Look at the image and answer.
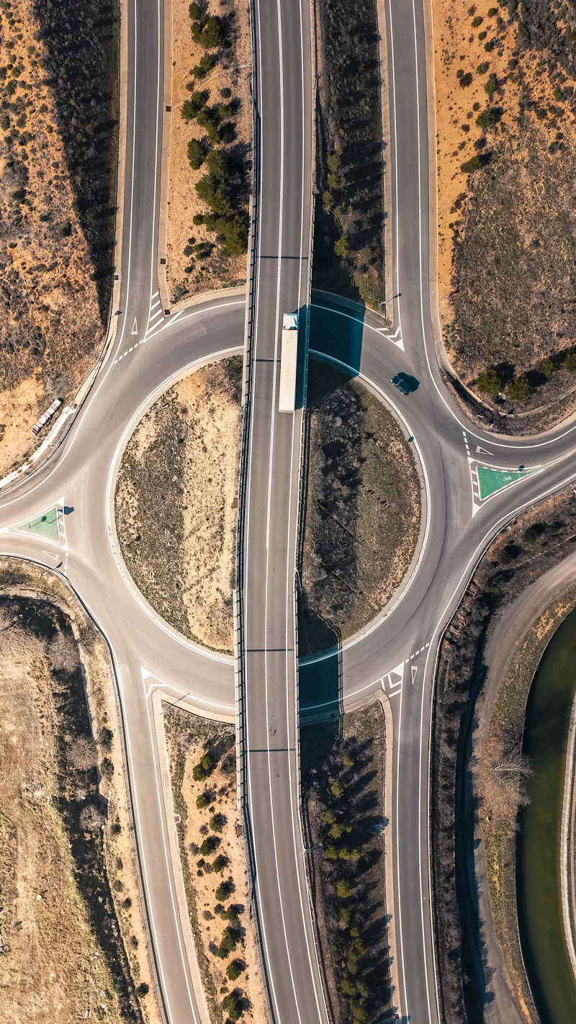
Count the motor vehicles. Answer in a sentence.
The number of motor vehicles here is 2.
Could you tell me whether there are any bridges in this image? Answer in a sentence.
Yes, you can see a bridge in this photo.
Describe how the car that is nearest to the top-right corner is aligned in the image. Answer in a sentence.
The car that is nearest to the top-right corner runs diagonally in the image.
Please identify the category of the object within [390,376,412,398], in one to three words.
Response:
car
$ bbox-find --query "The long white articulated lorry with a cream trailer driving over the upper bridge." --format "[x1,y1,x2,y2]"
[278,314,300,415]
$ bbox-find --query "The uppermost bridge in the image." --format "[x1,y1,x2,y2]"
[239,194,314,407]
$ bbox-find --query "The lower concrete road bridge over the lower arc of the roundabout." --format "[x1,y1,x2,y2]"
[231,569,305,850]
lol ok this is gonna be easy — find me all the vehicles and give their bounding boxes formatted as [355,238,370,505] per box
[390,376,412,398]
[278,314,300,415]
